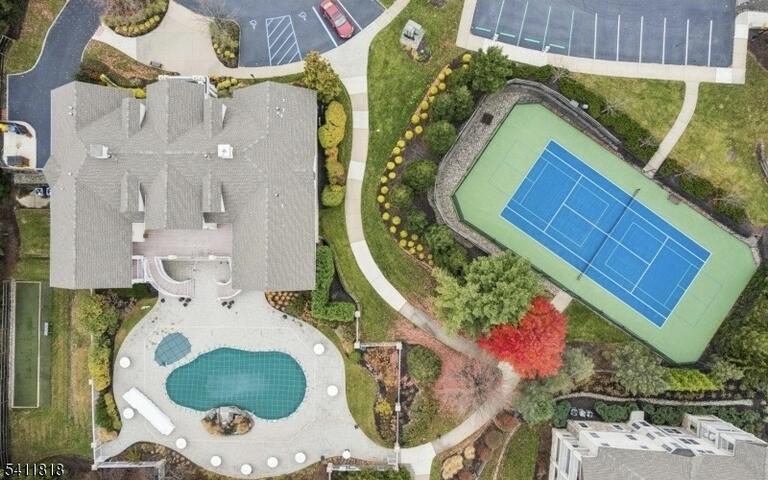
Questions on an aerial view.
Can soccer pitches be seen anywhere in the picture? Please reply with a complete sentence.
No, the photo shows no soccer pitch.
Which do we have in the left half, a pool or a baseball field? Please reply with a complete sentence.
Visible in the left half is a pool.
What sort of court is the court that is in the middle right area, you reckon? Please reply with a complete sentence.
Specifically, the court that is in the middle right area is a tennis court.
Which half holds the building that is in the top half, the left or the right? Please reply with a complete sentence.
It is on the left.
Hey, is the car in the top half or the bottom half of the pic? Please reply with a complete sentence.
It is in the top half that the car appears.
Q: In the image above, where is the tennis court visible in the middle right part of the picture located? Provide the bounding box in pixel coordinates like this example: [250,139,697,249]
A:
[454,103,757,364]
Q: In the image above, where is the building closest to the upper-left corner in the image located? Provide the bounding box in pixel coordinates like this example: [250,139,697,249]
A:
[44,76,320,301]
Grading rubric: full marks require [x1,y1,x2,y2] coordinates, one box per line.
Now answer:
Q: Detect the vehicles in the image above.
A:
[321,0,352,35]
